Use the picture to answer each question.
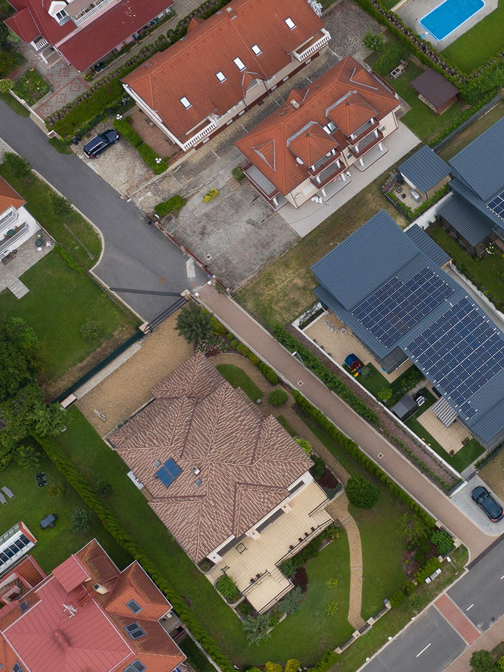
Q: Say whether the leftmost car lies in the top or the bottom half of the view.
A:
top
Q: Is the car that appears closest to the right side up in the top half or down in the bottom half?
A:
bottom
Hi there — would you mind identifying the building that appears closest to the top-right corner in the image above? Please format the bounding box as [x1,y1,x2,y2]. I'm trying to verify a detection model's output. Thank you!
[411,69,459,118]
